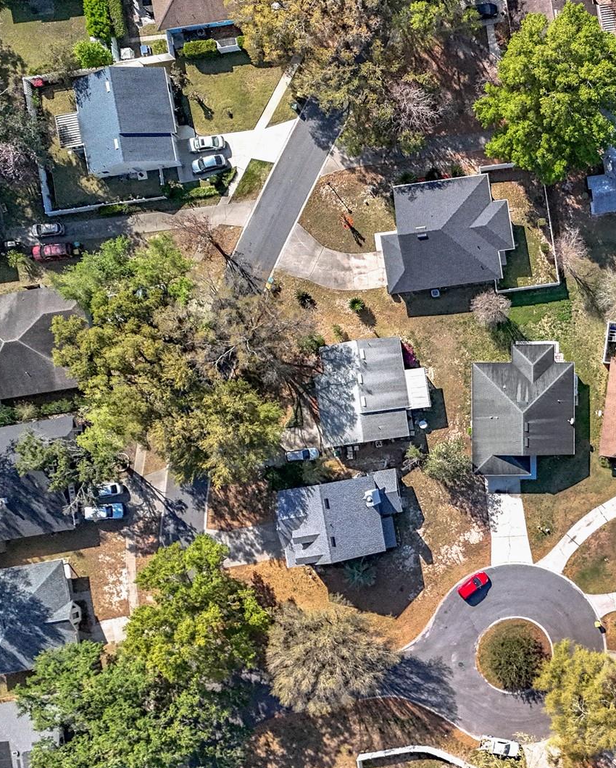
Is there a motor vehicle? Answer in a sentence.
Yes, there's a motor vehicle down there.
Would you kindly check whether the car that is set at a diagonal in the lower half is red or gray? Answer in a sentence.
The car that is set at a diagonal in the lower half looks red in the image.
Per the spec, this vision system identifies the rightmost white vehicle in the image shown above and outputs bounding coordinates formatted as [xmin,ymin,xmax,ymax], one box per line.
[480,735,522,758]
